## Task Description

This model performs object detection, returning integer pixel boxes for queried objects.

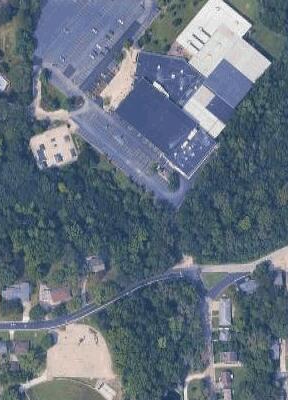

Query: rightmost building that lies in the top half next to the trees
[115,0,271,178]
